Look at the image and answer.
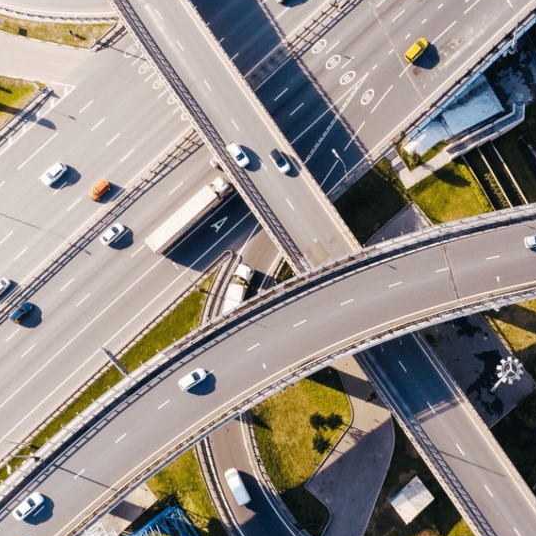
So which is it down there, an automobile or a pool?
automobile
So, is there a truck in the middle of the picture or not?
Yes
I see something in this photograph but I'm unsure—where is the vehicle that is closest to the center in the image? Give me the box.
[215,263,251,311]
